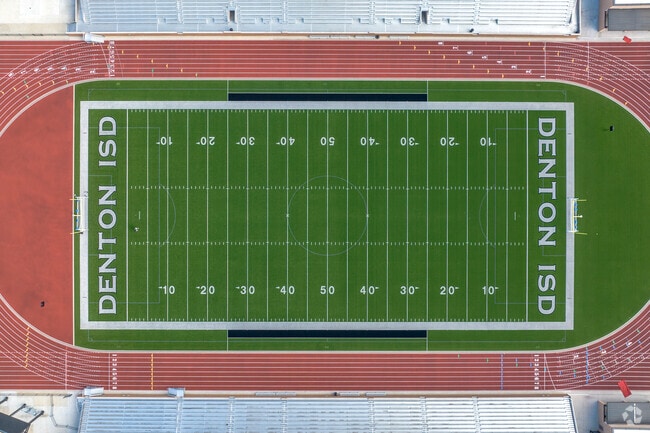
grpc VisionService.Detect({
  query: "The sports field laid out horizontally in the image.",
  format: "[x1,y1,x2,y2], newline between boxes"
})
[75,80,650,352]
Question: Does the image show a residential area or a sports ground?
sports ground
